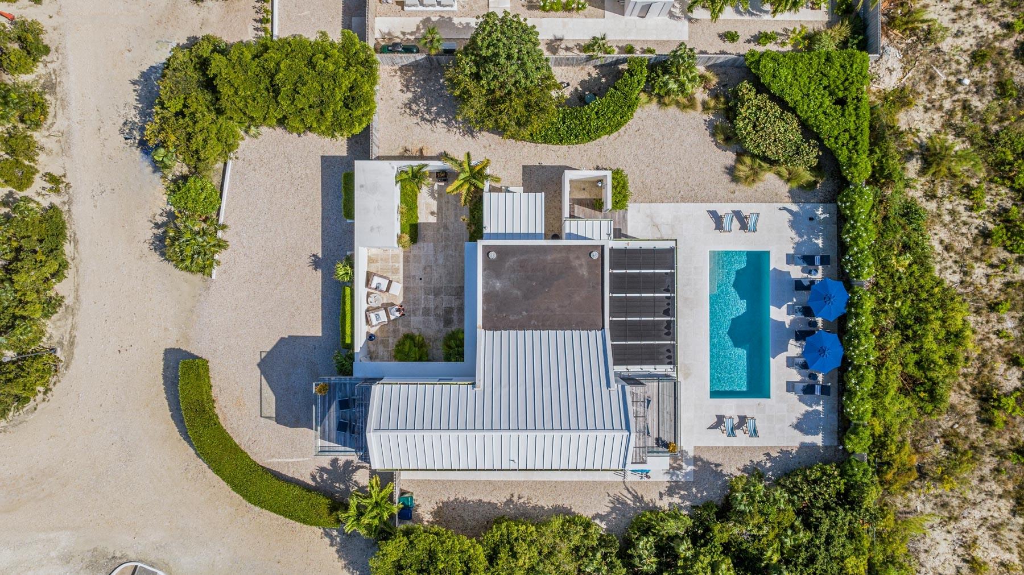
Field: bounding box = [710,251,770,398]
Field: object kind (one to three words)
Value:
swimming pool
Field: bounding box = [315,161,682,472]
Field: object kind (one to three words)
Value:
house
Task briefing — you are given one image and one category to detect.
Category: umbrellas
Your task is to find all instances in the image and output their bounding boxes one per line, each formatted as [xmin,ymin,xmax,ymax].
[800,330,844,374]
[805,277,848,321]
